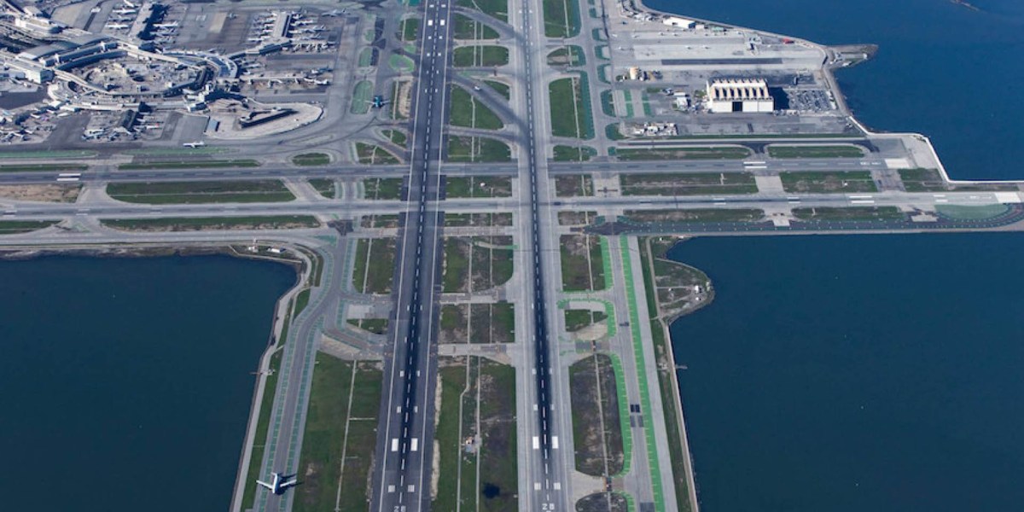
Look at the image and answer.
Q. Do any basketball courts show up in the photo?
No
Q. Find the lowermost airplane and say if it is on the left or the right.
left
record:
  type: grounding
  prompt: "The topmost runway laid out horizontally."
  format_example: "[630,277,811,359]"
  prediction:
[0,156,913,182]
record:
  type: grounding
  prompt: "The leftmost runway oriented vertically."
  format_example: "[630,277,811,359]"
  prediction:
[369,0,456,512]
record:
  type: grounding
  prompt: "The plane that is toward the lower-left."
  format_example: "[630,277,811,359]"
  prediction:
[255,471,295,493]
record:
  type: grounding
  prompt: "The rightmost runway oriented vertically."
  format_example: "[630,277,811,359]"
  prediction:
[507,0,579,512]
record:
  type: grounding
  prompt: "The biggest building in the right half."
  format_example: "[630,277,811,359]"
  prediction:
[701,79,774,112]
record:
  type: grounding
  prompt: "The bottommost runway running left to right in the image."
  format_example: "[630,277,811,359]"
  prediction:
[0,189,1024,220]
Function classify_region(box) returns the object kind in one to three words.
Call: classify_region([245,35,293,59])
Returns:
building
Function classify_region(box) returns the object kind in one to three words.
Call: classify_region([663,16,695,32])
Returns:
shed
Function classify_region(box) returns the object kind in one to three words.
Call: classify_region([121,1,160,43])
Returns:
building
